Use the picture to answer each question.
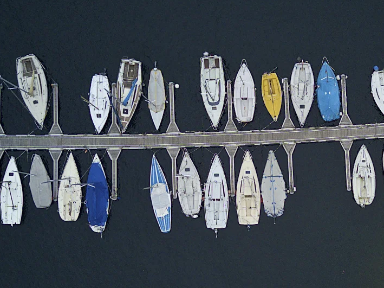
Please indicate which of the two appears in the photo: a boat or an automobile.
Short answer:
boat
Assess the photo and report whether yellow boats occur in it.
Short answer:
Yes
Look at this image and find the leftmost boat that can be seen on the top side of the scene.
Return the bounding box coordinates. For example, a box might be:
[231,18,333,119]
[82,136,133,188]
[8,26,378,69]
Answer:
[0,52,49,134]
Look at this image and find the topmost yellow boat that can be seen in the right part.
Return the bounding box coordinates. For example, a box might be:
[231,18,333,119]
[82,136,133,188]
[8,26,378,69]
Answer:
[261,70,284,128]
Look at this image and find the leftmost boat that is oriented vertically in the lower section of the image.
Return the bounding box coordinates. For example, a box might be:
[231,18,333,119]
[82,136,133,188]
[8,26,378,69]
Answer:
[0,147,28,228]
